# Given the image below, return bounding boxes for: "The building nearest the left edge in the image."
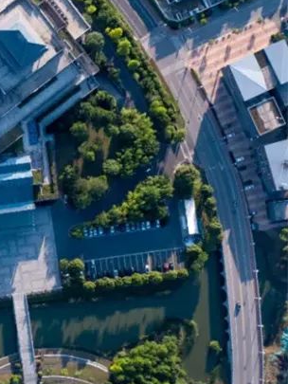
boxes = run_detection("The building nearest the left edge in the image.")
[0,154,36,215]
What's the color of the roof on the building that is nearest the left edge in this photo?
blue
